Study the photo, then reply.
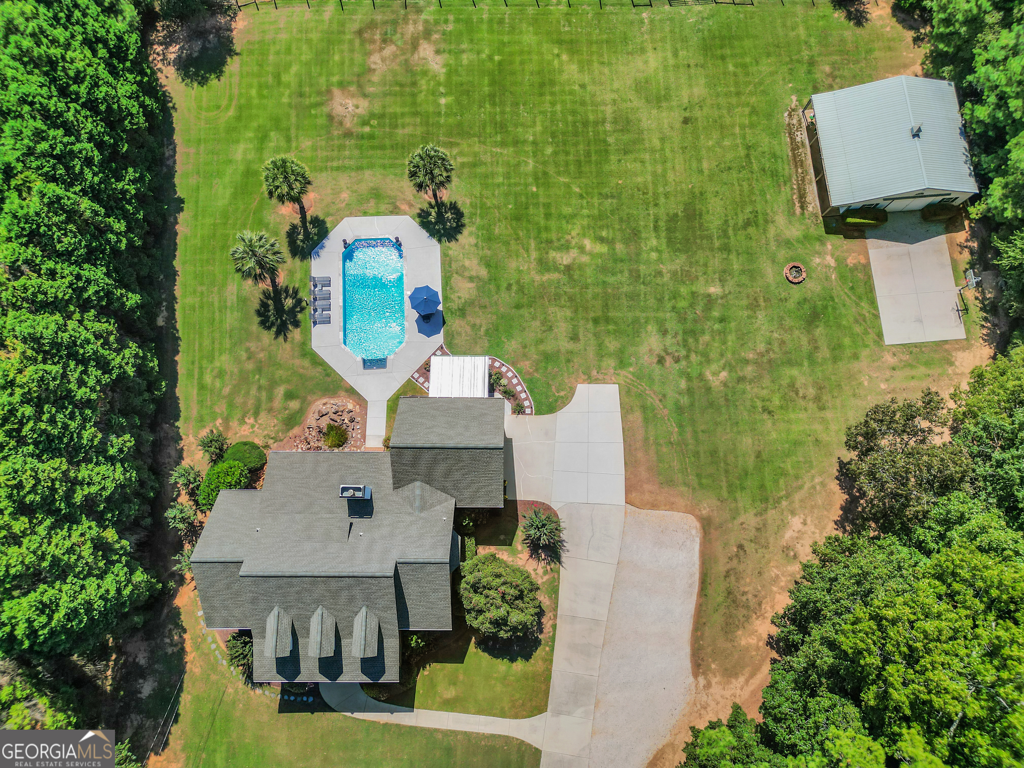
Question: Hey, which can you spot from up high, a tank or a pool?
pool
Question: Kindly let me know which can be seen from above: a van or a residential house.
residential house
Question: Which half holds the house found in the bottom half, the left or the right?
left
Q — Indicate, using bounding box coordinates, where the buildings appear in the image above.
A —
[189,396,505,684]
[802,75,978,216]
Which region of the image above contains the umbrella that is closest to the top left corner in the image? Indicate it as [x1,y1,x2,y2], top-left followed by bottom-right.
[409,285,441,315]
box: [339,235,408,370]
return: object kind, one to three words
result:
swimming pool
